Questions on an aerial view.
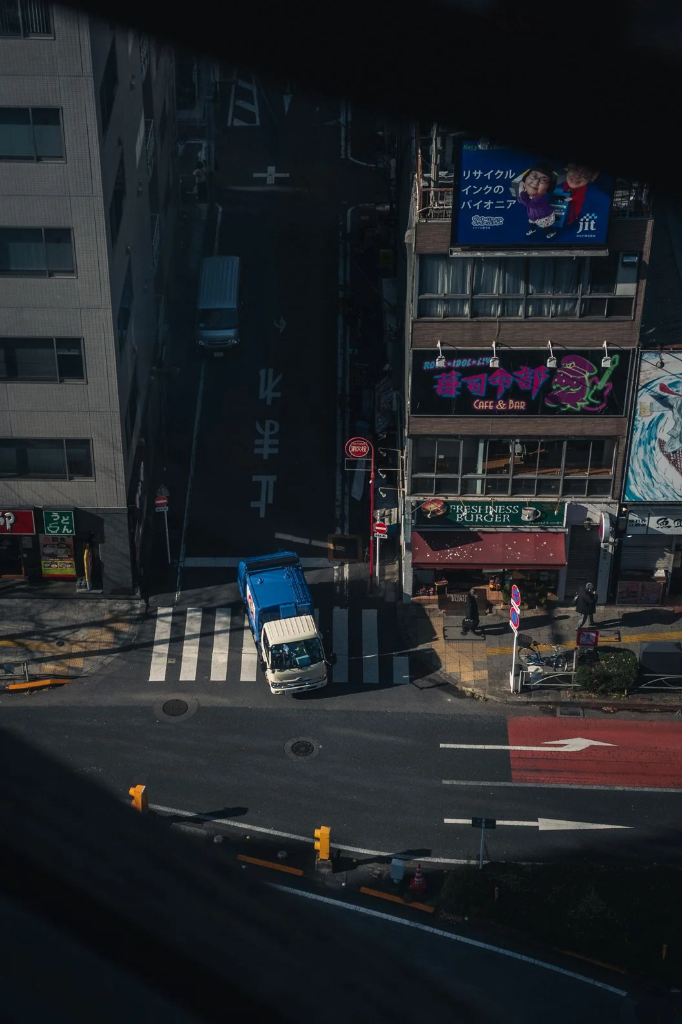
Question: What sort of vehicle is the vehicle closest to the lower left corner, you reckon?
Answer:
truck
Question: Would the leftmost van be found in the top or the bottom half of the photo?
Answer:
top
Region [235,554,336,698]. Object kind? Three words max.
truck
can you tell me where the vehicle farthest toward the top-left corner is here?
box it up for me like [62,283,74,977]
[192,252,243,346]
